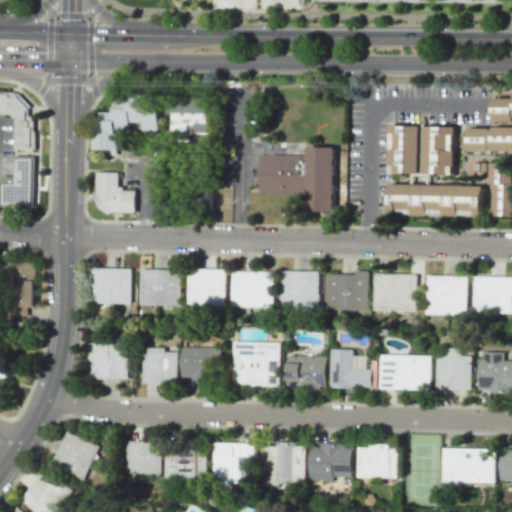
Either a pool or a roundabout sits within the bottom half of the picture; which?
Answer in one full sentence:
There is a pool within the bottom half of the picture.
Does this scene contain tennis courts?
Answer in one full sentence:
Yes, there's a tennis court down there.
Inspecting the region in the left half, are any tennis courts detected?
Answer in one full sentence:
No, no tennis court is visible in the left half.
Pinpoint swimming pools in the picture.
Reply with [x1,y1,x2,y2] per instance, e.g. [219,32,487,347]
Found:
[240,328,268,341]
[386,338,410,354]
[337,330,371,350]
[294,330,326,353]
[184,504,205,512]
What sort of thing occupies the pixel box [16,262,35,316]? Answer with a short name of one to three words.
building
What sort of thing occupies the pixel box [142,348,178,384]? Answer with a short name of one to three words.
house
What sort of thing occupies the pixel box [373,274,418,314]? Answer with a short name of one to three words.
house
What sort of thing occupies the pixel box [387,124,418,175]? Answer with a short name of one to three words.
building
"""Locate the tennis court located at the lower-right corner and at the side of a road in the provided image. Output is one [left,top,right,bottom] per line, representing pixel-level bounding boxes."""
[407,434,442,508]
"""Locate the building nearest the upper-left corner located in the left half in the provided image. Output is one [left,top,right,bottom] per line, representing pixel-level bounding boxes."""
[0,92,34,152]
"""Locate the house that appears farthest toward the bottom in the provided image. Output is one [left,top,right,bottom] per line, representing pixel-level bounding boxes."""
[24,478,68,512]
